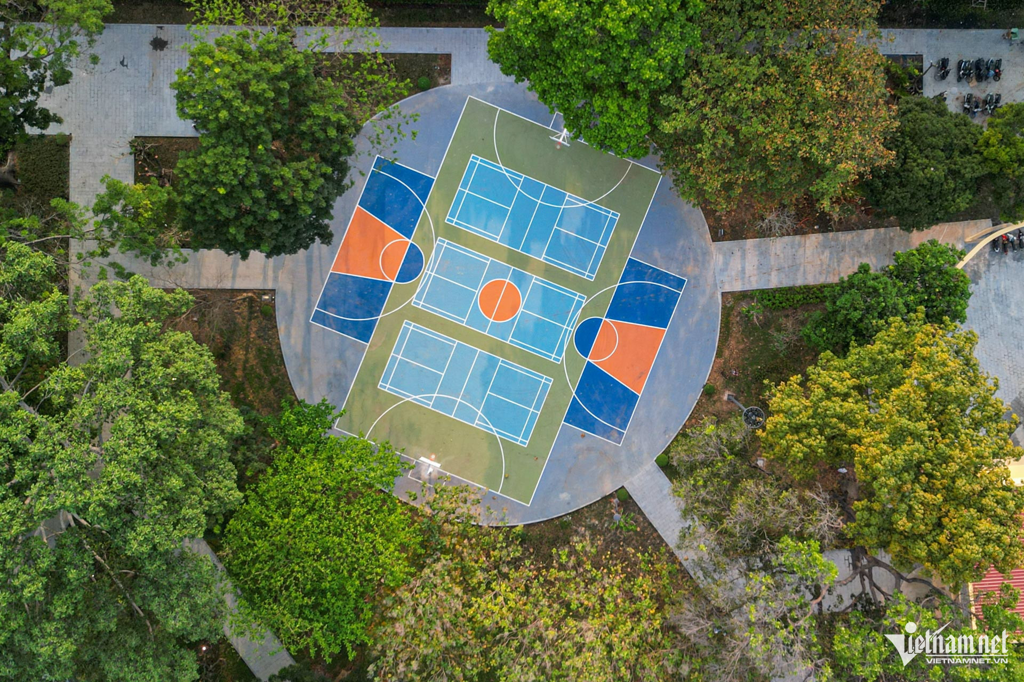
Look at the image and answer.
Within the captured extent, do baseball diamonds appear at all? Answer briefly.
No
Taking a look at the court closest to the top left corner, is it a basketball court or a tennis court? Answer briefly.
basketball court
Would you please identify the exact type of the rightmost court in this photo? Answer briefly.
basketball court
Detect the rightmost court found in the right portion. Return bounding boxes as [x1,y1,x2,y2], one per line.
[562,256,688,448]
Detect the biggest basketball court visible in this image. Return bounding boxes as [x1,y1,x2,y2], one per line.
[335,94,662,507]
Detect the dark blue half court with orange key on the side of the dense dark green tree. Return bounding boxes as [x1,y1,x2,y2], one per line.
[309,153,435,345]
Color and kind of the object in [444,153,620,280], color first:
blue sports court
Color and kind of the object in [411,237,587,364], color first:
blue sports court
